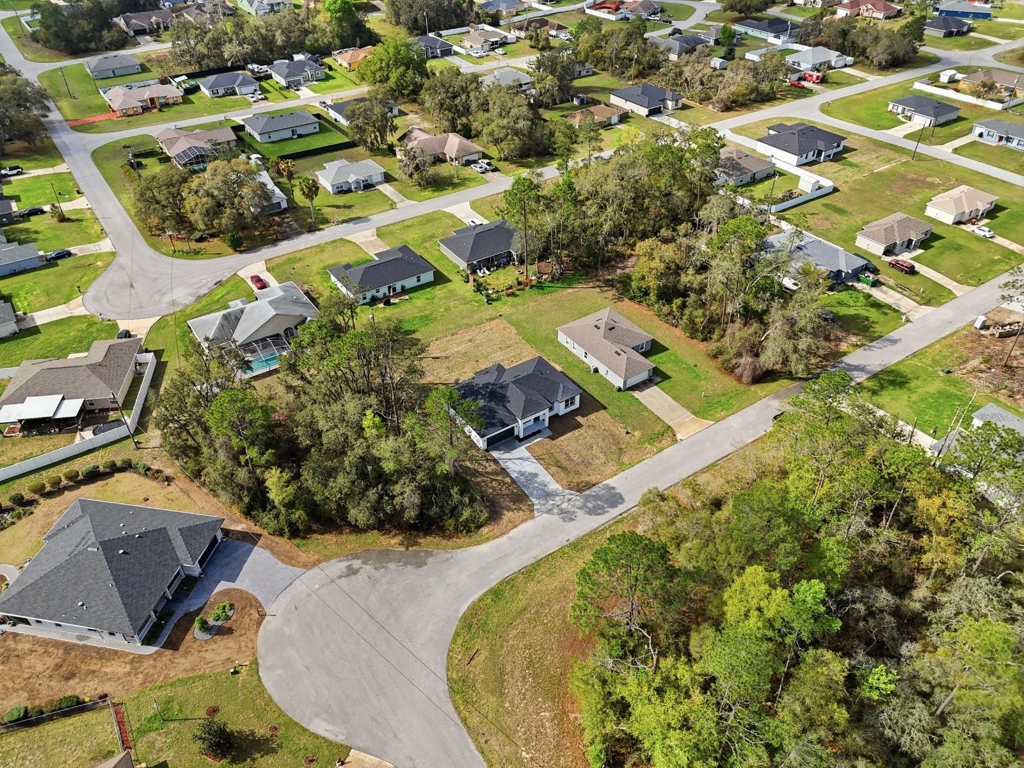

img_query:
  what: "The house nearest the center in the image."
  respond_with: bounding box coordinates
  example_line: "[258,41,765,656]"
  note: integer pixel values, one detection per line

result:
[447,356,585,450]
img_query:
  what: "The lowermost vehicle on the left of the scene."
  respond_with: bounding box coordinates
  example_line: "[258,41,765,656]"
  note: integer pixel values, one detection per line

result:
[116,326,130,339]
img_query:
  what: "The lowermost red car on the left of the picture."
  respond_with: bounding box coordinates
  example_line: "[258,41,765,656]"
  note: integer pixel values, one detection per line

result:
[248,272,265,286]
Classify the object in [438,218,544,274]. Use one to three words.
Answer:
house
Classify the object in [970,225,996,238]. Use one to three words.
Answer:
vehicle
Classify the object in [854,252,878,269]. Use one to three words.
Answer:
vehicle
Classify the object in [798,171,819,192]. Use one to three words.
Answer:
shed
